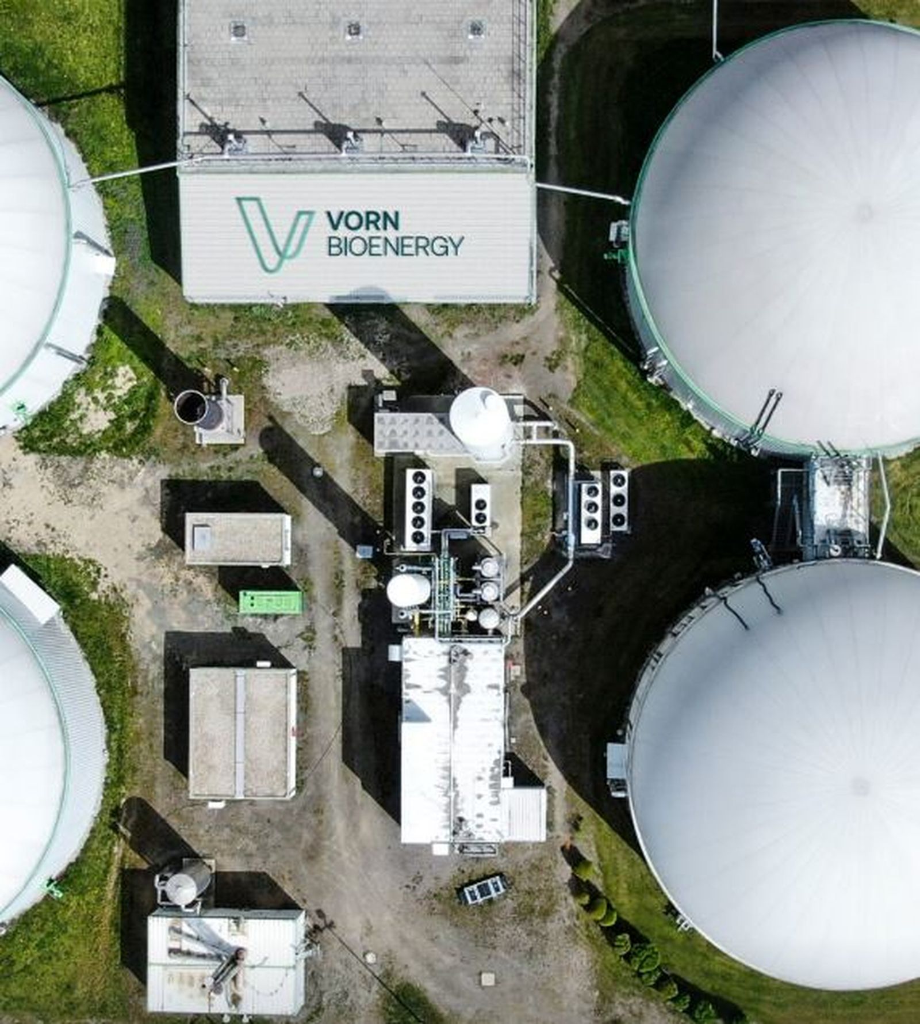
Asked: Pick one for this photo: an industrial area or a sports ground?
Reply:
industrial area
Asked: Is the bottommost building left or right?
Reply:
left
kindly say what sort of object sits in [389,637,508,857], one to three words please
building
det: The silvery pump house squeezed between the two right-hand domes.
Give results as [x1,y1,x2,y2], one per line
[794,455,874,560]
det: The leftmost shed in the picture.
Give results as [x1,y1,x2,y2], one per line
[0,563,71,622]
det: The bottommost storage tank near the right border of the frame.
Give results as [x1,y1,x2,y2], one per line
[600,554,920,990]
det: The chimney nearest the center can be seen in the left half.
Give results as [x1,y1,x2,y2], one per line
[174,379,246,444]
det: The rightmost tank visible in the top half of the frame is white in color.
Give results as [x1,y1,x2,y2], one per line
[603,20,920,466]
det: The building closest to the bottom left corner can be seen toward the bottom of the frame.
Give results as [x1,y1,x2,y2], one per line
[146,906,321,1021]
